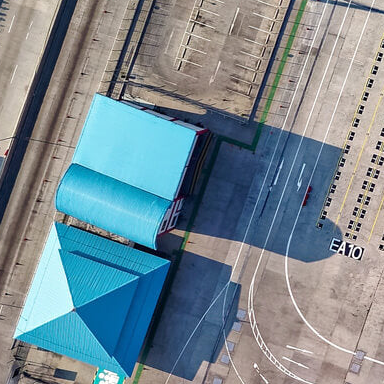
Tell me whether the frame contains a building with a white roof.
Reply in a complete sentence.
No, the photo shows no building with a white roof.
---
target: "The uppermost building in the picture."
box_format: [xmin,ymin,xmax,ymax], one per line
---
[54,94,222,251]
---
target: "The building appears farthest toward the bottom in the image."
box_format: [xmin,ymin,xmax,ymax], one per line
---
[14,221,171,379]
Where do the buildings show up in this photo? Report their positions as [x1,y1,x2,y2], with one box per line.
[54,94,222,251]
[14,221,171,379]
